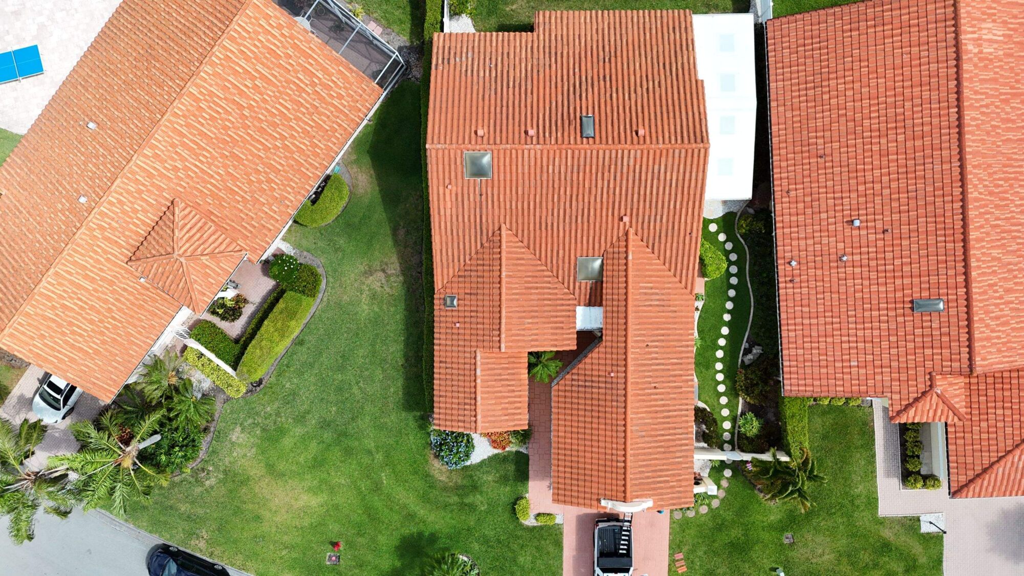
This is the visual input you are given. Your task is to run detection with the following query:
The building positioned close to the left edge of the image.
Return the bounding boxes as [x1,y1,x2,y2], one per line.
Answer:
[0,0,385,404]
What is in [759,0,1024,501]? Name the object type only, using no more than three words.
house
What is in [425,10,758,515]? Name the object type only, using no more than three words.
house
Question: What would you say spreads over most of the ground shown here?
buildings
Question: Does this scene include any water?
No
